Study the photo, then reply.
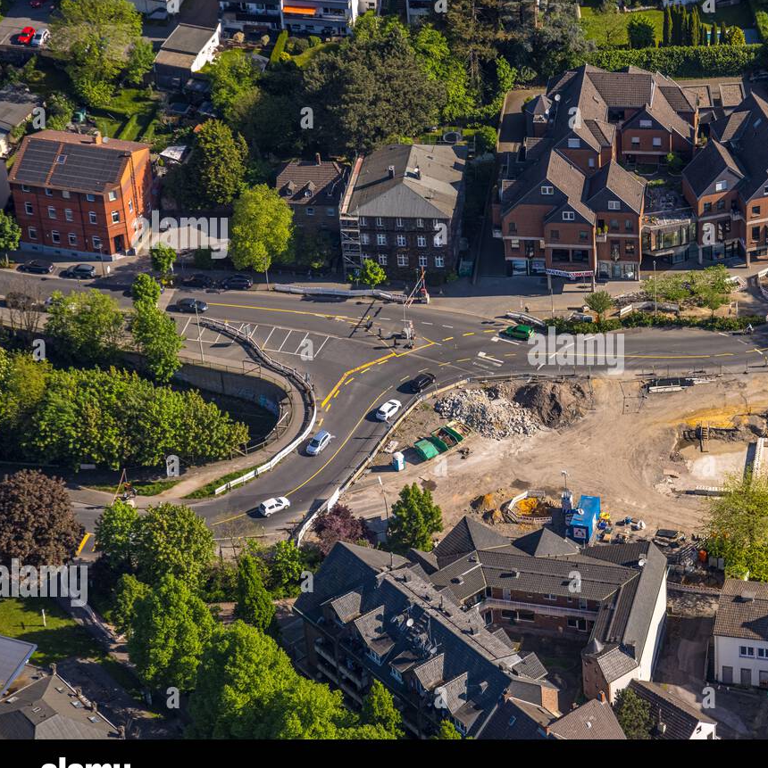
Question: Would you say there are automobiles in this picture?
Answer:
Yes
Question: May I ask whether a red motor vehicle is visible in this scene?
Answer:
Yes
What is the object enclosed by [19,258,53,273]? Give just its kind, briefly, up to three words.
car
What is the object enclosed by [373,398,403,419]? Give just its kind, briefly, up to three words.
car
